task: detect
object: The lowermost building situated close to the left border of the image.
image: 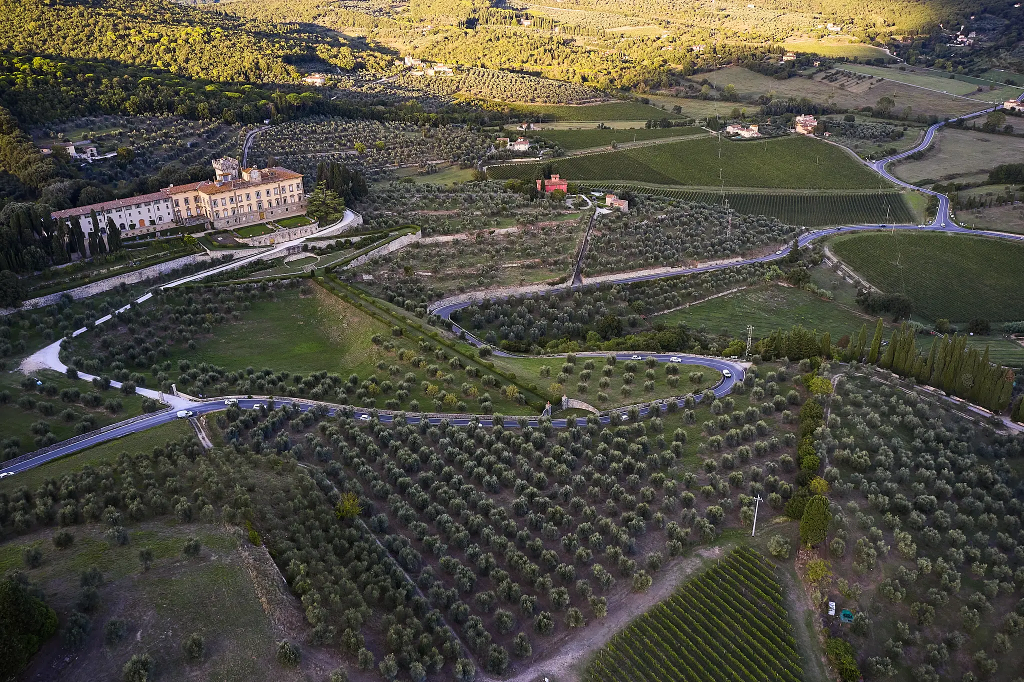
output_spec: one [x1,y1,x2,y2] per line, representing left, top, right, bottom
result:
[45,155,307,248]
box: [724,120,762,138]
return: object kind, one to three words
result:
house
